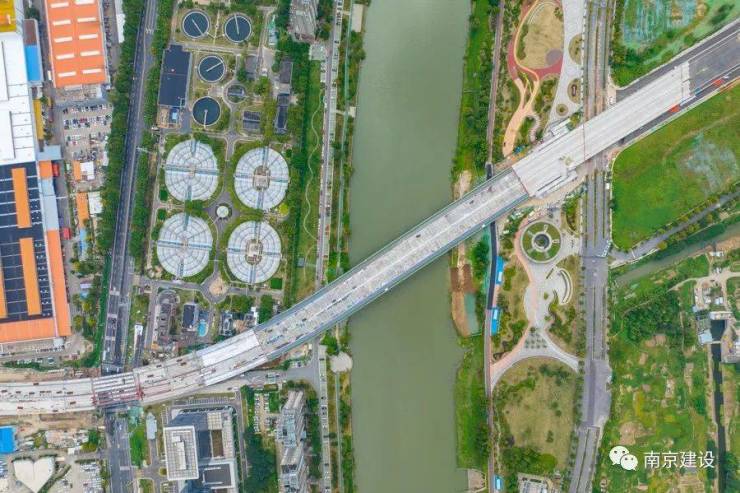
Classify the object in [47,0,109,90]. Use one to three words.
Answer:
building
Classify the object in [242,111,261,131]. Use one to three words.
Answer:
building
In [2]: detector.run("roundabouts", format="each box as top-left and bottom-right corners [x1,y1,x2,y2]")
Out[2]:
[200,274,231,303]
